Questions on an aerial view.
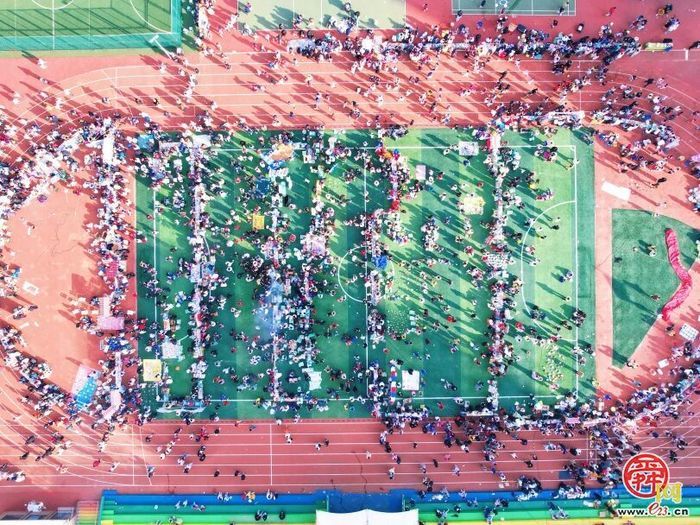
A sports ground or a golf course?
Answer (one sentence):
The area seen from above is a sports ground.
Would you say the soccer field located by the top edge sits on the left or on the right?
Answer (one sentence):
The soccer field located by the top edge appears in the left half of the scene.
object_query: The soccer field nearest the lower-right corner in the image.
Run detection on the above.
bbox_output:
[136,129,596,420]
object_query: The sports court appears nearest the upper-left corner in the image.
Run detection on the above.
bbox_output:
[236,0,403,29]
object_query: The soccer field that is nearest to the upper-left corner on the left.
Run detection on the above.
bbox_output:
[0,0,178,51]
